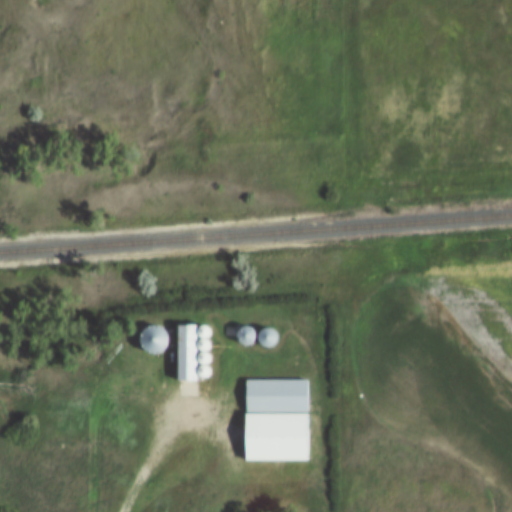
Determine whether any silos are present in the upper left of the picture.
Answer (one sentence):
No, no silo appears in the upper left of the picture.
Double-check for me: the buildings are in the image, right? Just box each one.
[246,380,310,414]
[246,414,310,462]
[178,324,198,381]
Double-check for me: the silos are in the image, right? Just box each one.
[258,328,280,348]
[198,338,214,352]
[198,352,214,366]
[198,365,214,379]
[198,324,214,338]
[237,326,258,346]
[140,325,170,354]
